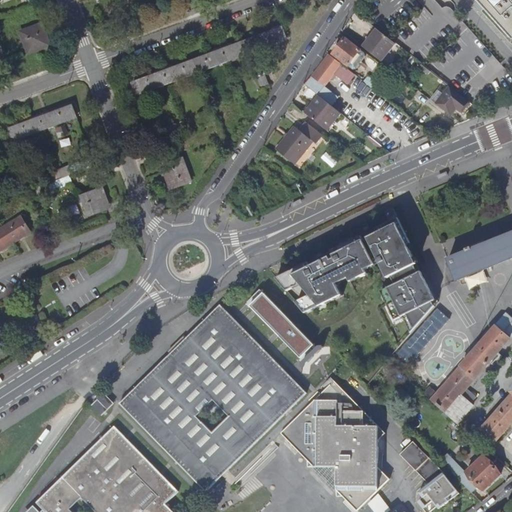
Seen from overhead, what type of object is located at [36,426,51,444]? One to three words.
vehicle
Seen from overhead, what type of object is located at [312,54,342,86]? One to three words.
house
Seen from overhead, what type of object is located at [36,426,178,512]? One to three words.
building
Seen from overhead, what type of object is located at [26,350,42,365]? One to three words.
vehicle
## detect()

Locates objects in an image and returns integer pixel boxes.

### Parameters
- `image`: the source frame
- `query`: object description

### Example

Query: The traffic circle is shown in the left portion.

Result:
[150,222,228,300]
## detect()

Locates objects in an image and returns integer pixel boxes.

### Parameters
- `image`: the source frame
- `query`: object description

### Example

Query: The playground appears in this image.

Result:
[414,330,470,388]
